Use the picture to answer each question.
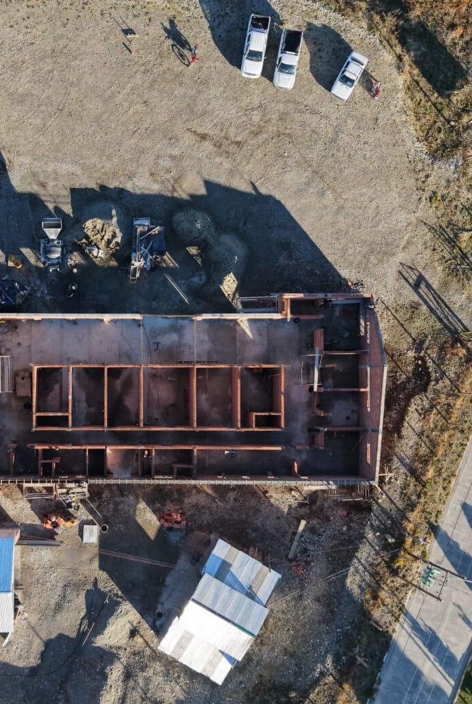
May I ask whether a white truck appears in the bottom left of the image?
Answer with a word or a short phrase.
No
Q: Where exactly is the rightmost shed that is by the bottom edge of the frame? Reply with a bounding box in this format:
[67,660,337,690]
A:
[159,536,280,685]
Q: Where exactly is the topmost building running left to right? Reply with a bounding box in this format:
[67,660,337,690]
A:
[0,295,388,486]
